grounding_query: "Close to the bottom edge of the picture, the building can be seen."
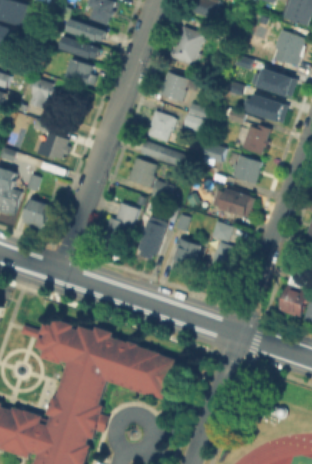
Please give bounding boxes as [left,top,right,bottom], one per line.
[0,318,174,464]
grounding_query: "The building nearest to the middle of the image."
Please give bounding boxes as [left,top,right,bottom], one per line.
[140,218,167,257]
